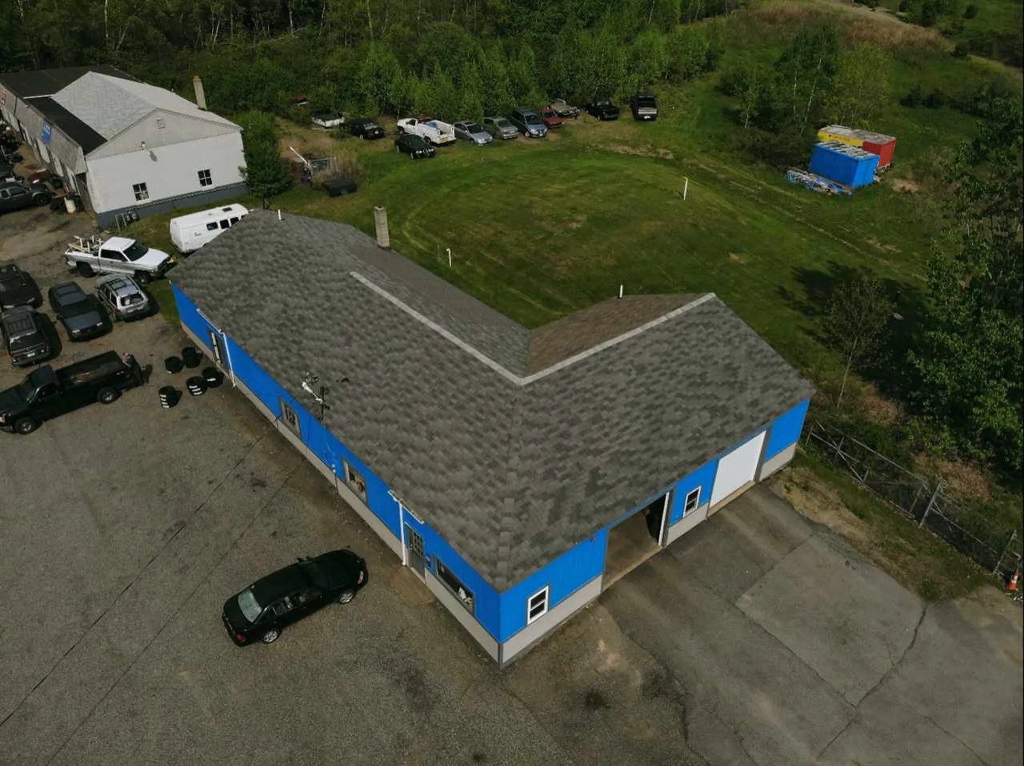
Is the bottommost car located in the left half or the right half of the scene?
left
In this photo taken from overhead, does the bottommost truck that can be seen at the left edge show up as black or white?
black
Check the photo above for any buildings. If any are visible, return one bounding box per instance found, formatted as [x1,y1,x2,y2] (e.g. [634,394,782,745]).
[168,209,816,667]
[0,59,252,225]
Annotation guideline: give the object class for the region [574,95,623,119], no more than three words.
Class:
truck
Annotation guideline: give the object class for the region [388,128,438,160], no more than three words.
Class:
car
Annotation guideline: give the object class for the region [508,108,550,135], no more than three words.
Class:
car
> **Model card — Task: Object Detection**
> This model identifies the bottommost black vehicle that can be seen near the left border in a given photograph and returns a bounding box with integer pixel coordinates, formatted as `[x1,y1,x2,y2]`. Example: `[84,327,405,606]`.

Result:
[0,359,129,436]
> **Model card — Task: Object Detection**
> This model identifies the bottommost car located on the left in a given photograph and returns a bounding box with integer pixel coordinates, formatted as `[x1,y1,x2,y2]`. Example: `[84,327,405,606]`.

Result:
[219,549,371,650]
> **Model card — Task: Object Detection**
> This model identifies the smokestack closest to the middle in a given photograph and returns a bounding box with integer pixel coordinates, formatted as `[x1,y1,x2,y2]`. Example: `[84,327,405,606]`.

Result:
[375,205,390,245]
